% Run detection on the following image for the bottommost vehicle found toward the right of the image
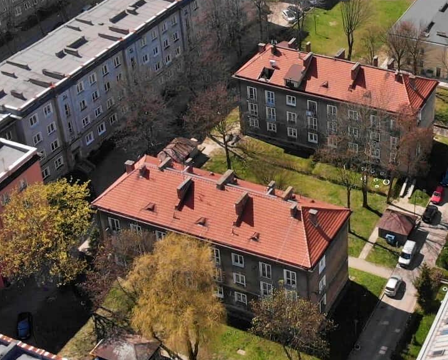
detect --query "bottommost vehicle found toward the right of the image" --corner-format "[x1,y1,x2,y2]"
[384,273,404,301]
